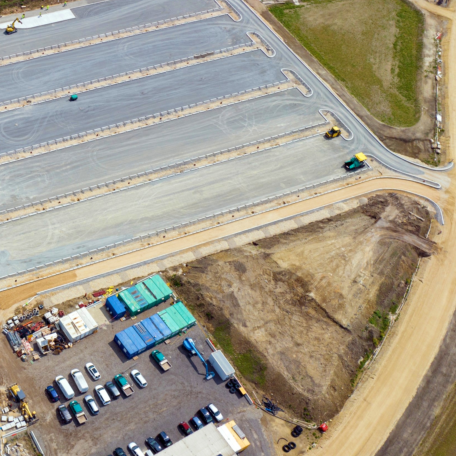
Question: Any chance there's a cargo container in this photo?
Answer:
Yes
